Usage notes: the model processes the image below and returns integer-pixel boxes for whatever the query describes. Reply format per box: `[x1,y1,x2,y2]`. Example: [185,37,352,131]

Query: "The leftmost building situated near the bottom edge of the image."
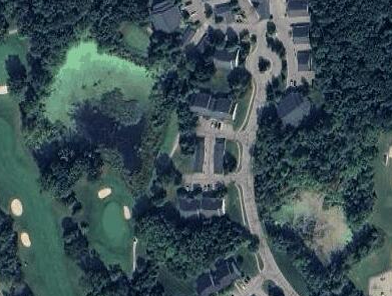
[195,255,243,295]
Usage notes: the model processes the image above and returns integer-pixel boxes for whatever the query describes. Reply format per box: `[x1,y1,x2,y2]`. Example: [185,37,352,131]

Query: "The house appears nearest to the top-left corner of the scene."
[151,0,182,32]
